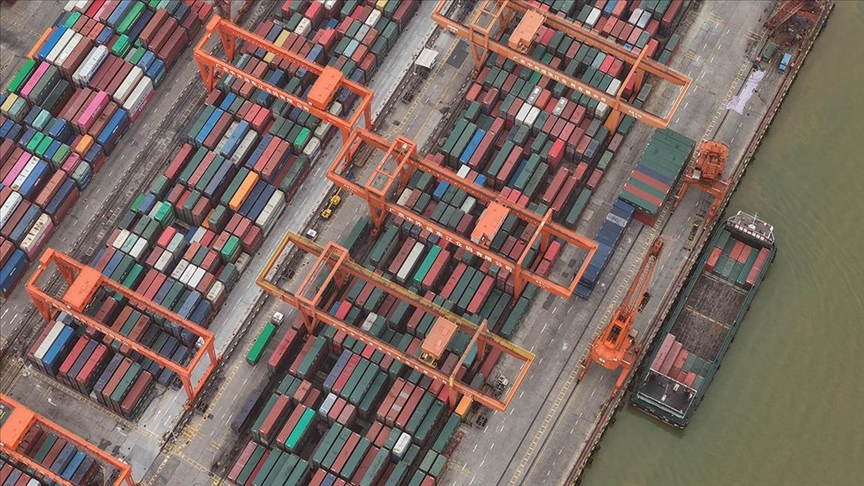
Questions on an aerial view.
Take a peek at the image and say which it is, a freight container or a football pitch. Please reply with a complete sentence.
It is a freight container that can be seen here.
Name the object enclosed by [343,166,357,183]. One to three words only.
work vehicle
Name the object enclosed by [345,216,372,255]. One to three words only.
shipping container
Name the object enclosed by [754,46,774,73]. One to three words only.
vehicle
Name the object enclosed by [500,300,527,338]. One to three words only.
shipping container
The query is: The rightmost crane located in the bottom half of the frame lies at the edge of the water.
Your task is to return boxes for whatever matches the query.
[575,233,672,401]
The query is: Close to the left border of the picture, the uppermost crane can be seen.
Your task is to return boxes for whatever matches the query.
[23,246,224,407]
